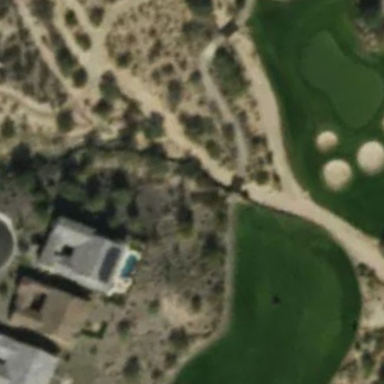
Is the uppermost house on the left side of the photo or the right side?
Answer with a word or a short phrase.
left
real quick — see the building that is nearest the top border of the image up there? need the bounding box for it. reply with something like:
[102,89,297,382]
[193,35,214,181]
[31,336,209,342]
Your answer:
[37,215,126,293]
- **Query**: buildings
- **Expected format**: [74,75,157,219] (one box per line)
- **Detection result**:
[0,335,60,384]
[6,276,81,339]
[37,215,126,293]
